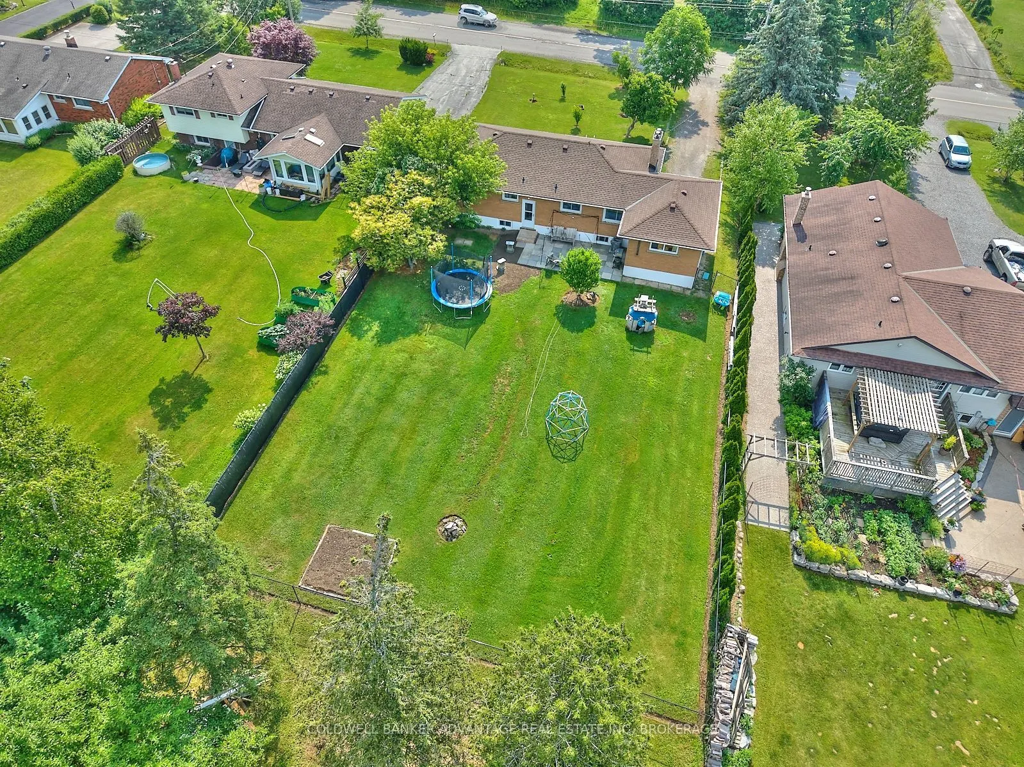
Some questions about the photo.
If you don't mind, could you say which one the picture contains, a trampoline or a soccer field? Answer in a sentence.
The image shows a trampoline.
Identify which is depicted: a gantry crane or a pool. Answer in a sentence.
Visible in the photo is a pool.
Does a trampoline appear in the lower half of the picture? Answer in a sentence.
No, looking in the lower half of the picture, there is no trampoline.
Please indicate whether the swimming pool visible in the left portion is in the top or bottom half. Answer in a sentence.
The swimming pool visible in the left portion sits in the top half of the picture.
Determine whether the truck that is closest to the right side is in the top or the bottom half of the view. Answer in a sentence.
The truck that is closest to the right side is in the top half of the image.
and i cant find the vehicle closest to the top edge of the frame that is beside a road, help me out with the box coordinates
[456,3,500,27]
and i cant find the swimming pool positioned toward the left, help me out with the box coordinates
[129,153,173,178]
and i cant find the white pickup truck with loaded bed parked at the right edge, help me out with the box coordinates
[975,233,1024,271]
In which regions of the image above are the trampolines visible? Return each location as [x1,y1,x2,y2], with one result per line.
[427,249,492,322]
